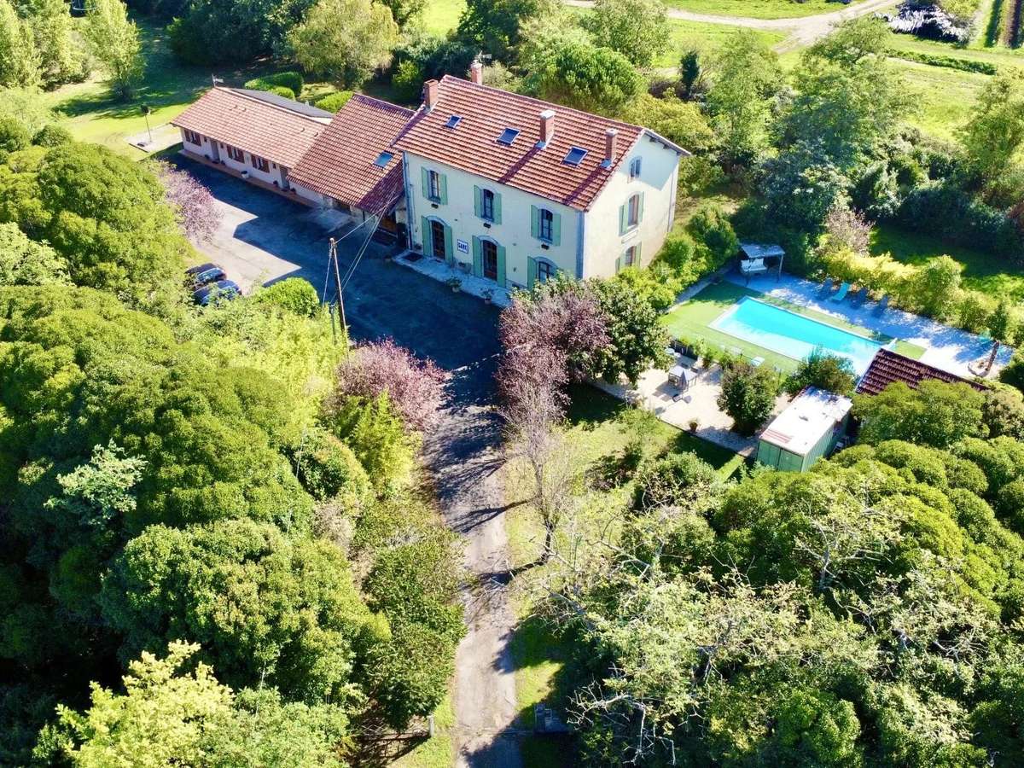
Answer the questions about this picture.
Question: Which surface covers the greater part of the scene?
trees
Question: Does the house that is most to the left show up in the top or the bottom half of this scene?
top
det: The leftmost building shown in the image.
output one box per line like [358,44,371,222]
[172,83,341,213]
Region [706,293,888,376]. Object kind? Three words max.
swimming pool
